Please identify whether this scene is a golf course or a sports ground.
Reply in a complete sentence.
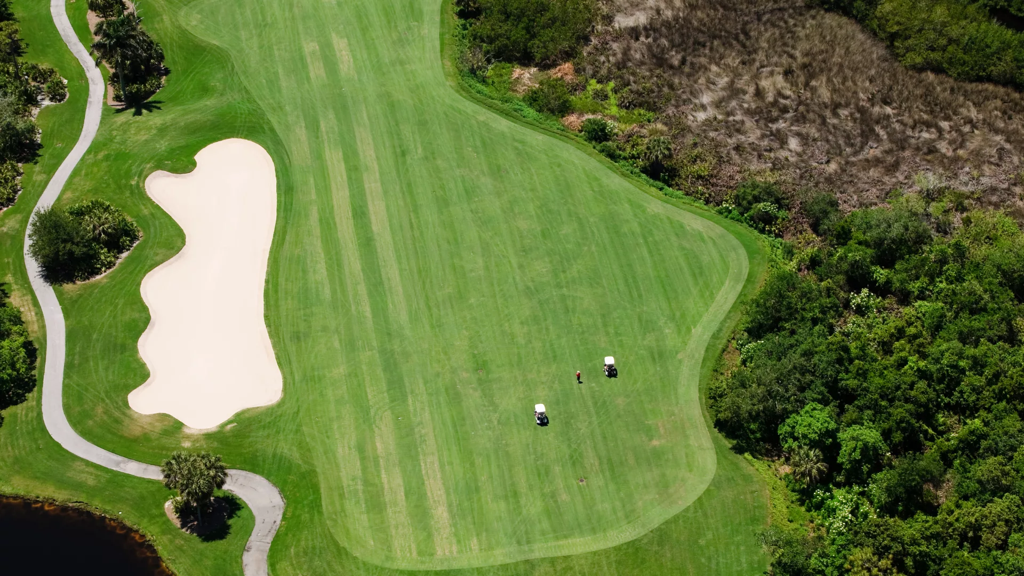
The area seen from above is a golf course.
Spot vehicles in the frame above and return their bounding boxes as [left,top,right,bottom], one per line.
[604,356,616,378]
[534,403,547,426]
